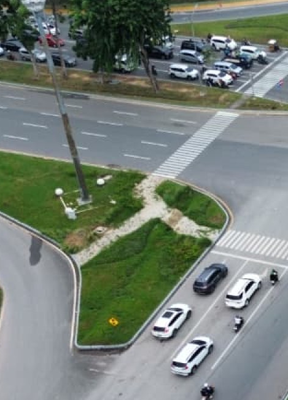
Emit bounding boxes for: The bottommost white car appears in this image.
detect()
[167,337,214,382]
